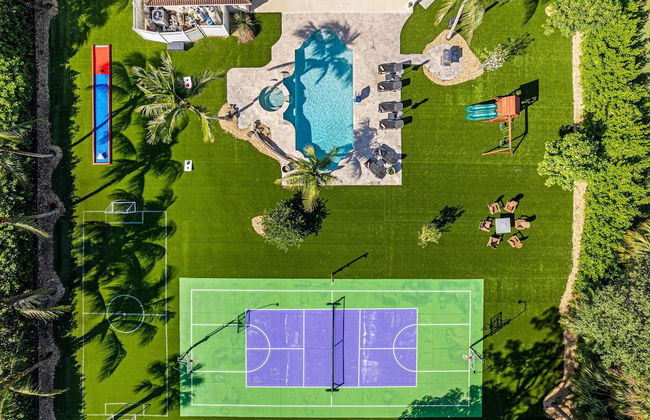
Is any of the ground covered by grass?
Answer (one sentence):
Yes, grass can be seen from above here.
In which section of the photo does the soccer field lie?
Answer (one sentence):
The soccer field is in the bottom left part of the image.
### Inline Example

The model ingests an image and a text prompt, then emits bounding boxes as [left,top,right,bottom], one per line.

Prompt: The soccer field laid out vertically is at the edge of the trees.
[81,209,169,420]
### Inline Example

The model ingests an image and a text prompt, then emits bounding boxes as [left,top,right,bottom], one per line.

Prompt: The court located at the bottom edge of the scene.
[180,279,484,417]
